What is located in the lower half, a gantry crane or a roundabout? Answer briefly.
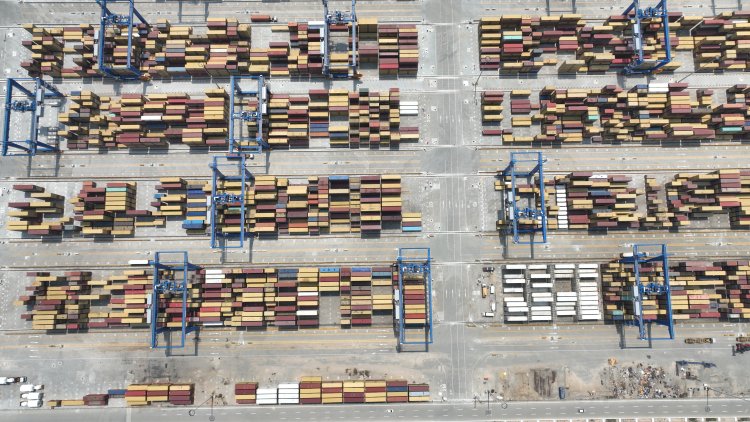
gantry crane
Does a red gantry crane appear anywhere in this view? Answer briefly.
No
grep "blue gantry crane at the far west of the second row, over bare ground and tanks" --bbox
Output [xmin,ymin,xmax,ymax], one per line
[0,78,65,156]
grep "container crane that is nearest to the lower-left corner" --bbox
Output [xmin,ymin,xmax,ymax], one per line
[147,252,204,347]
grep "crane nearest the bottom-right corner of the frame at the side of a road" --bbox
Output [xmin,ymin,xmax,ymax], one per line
[613,245,675,340]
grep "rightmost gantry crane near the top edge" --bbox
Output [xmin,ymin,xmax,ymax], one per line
[617,0,671,75]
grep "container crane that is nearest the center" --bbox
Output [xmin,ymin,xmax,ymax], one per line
[392,248,434,344]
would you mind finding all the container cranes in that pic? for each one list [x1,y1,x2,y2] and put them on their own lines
[0,78,65,156]
[497,152,548,243]
[392,248,434,344]
[613,245,675,340]
[229,76,273,153]
[320,0,361,78]
[95,0,152,80]
[147,252,204,347]
[617,0,671,75]
[207,156,256,248]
